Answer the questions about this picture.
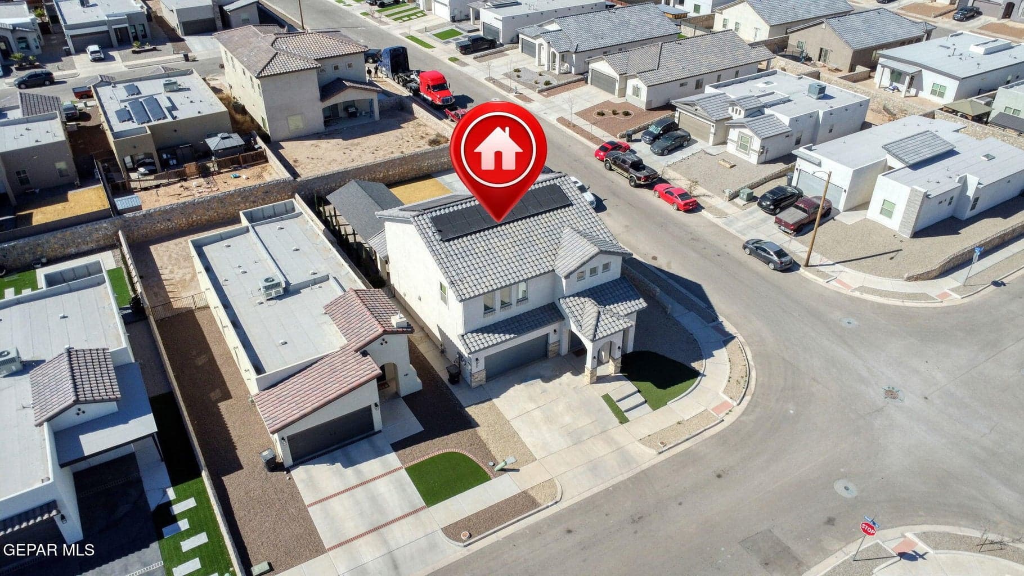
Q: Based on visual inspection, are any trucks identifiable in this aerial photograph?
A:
Yes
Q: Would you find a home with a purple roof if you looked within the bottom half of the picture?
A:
No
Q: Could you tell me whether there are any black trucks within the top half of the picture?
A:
Yes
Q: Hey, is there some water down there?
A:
No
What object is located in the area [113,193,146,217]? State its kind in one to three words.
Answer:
shed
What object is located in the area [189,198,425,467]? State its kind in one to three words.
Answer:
house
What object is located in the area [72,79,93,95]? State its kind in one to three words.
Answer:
vehicle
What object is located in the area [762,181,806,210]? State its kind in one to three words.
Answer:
car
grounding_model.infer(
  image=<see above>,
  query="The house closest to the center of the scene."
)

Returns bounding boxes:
[374,176,649,388]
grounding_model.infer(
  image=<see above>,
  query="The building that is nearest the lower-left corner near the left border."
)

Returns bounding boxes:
[0,257,169,573]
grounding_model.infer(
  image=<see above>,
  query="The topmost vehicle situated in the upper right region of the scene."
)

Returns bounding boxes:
[949,2,977,18]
